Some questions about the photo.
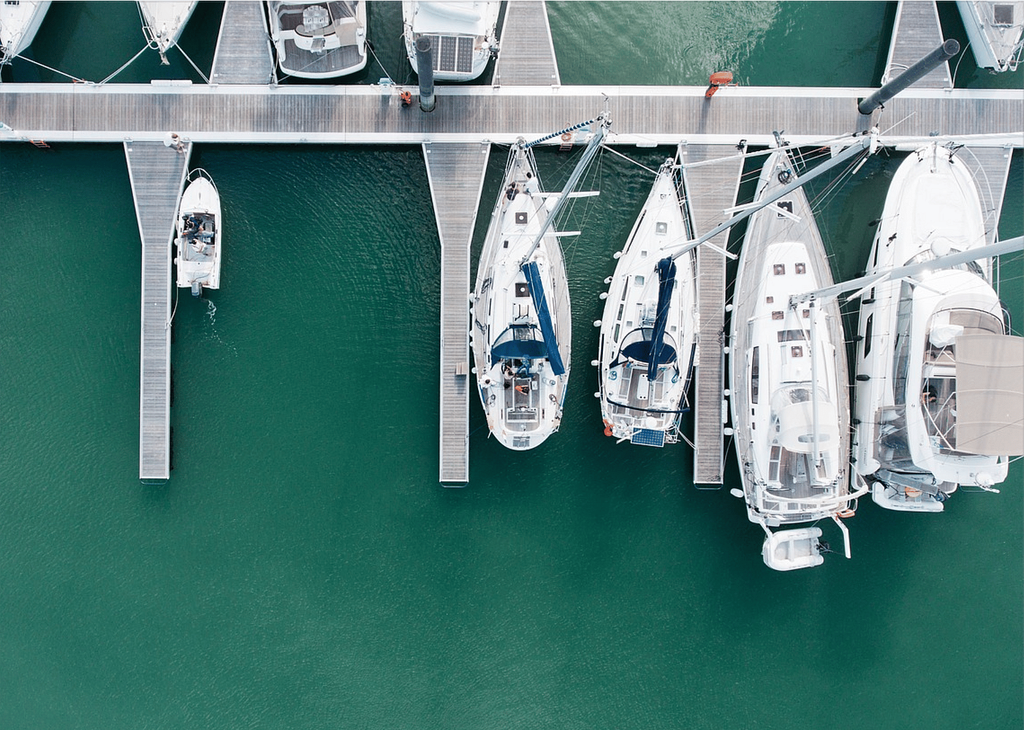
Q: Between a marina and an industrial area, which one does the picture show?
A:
marina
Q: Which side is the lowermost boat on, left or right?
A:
right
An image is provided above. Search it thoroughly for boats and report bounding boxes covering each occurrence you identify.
[400,0,499,86]
[0,0,54,61]
[875,475,951,511]
[725,126,1024,558]
[603,105,896,447]
[270,0,369,82]
[955,0,1024,75]
[472,86,624,450]
[848,145,1024,495]
[176,168,224,296]
[138,0,202,62]
[763,533,832,570]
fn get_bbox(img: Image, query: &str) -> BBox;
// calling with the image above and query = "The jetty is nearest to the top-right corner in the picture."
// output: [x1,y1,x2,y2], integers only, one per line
[879,0,957,89]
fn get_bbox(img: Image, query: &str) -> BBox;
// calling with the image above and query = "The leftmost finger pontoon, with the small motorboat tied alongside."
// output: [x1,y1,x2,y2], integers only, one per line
[123,140,192,485]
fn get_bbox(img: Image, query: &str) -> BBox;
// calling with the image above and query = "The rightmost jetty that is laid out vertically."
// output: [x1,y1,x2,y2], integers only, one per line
[948,145,1015,301]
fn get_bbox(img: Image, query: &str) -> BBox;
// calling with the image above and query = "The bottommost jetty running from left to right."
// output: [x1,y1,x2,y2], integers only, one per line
[0,83,1024,150]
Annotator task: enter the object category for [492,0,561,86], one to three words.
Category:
pier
